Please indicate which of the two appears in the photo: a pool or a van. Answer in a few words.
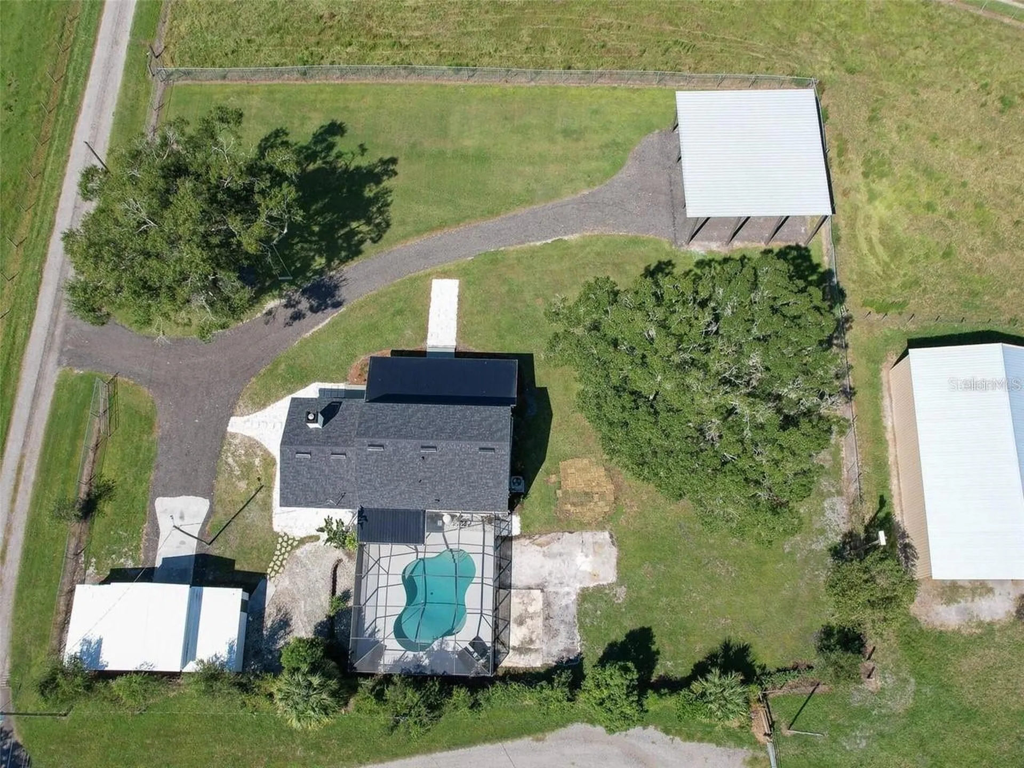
pool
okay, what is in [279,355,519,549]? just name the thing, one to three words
house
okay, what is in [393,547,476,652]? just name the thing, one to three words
swimming pool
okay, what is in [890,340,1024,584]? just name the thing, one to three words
barn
